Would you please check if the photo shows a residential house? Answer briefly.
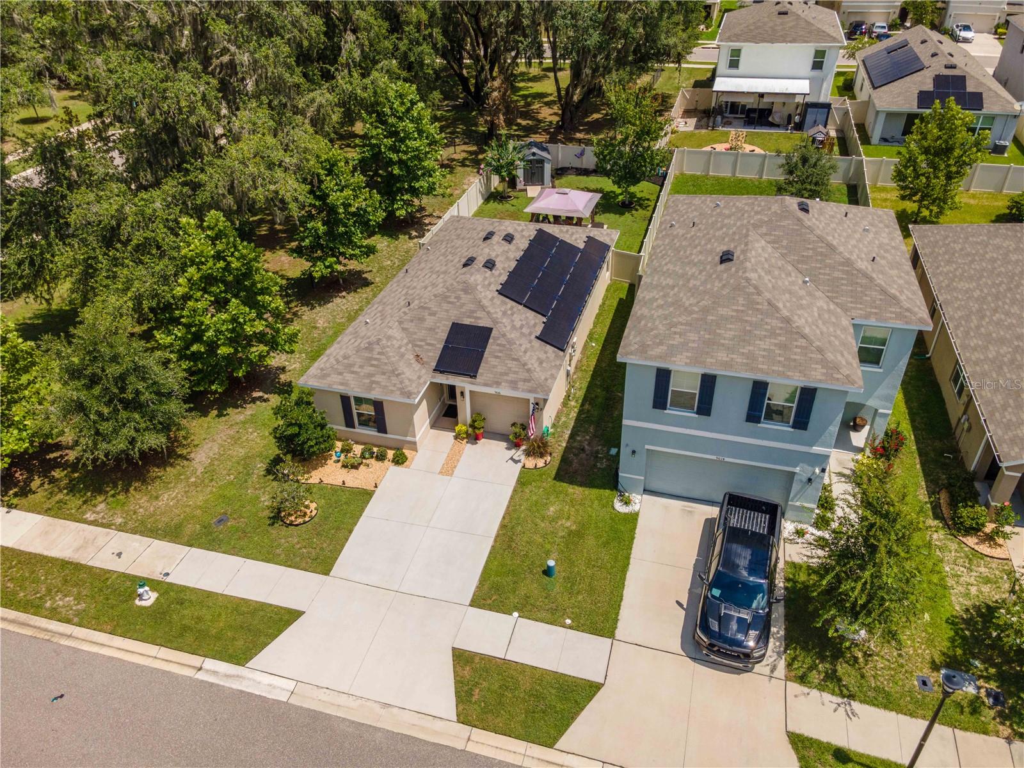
Yes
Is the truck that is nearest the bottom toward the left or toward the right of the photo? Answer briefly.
right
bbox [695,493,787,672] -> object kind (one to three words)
truck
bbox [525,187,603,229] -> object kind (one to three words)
gazebo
